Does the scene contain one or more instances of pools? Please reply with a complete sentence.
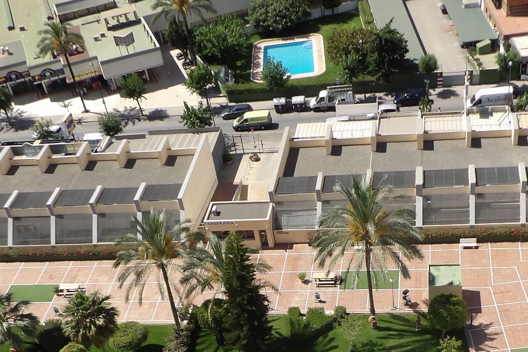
Yes, there is a pool in the image.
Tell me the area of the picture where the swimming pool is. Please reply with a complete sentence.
Look in the top portion of the view to spot the swimming pool.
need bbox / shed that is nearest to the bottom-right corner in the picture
[428,265,462,304]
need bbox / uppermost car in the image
[437,1,451,19]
